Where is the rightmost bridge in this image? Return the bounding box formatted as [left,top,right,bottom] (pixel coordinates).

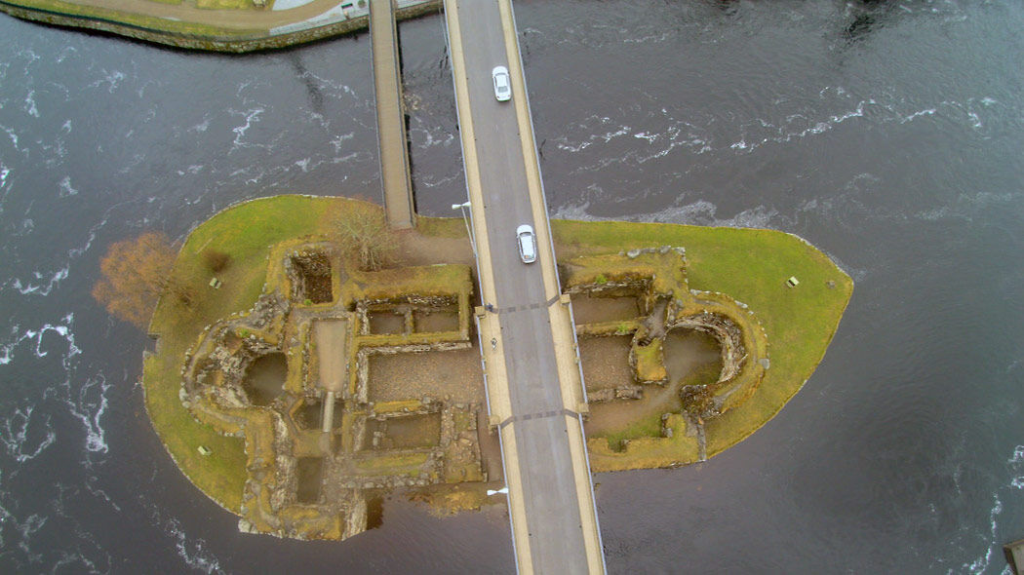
[444,0,607,575]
